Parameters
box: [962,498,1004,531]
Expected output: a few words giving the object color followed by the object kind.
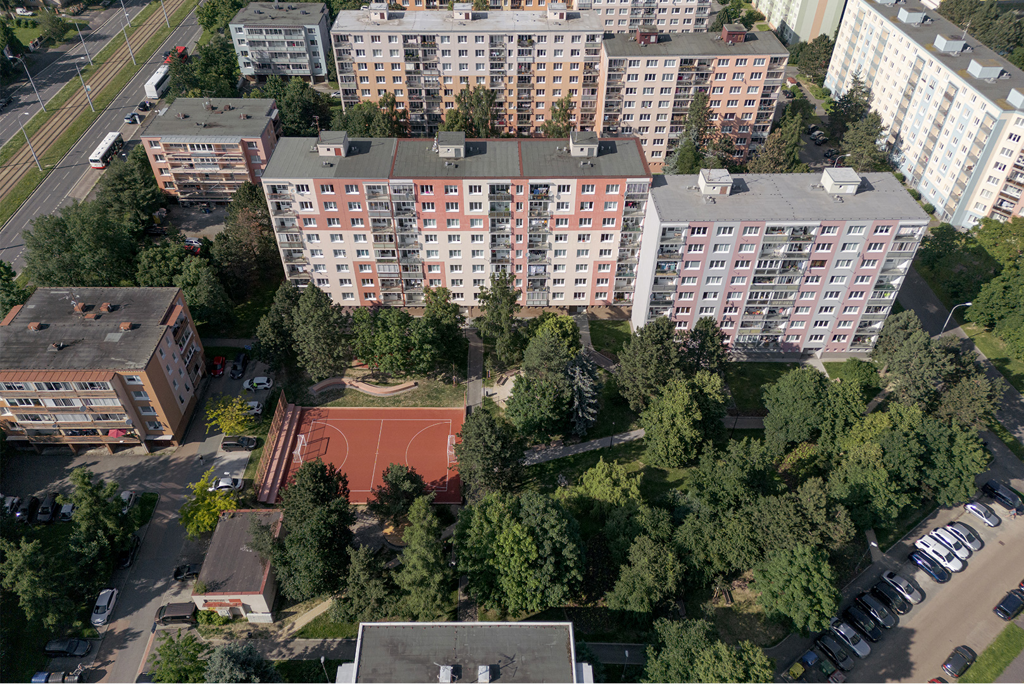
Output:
gray car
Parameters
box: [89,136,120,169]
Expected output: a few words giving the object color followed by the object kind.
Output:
white bus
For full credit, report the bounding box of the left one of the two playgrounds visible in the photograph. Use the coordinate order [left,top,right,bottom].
[352,507,409,555]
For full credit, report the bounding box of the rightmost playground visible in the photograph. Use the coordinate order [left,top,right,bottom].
[493,370,528,405]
